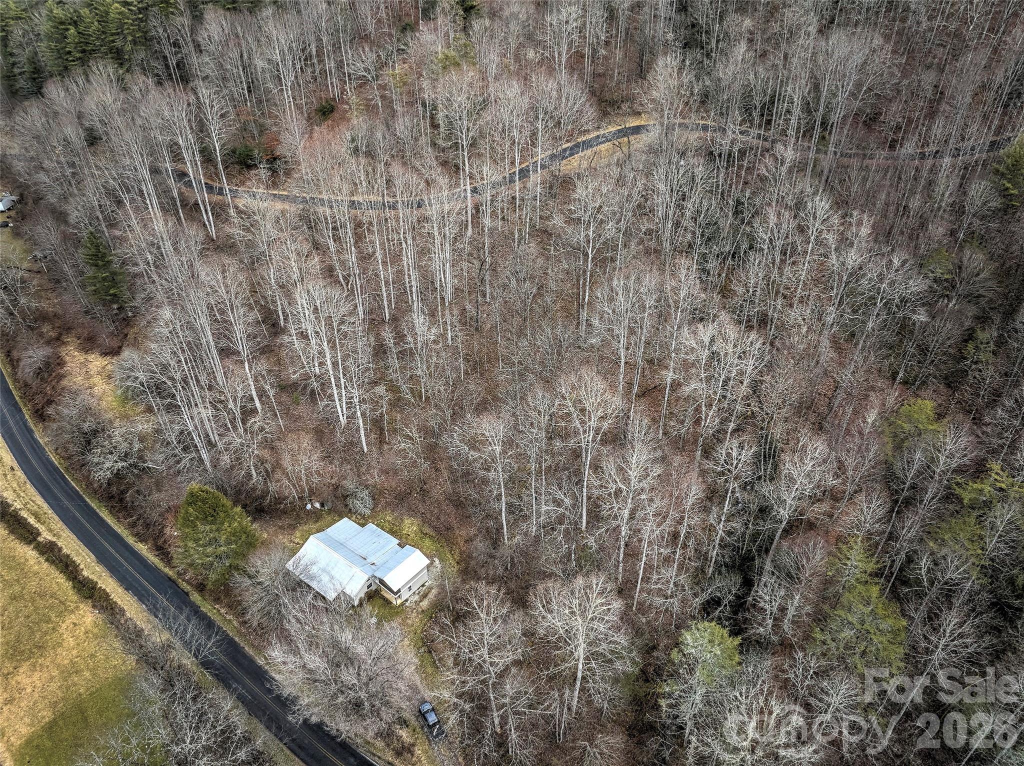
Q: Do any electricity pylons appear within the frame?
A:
No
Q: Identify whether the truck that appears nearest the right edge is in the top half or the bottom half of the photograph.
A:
bottom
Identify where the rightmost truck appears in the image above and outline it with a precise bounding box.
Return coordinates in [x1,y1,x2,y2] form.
[416,699,449,744]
